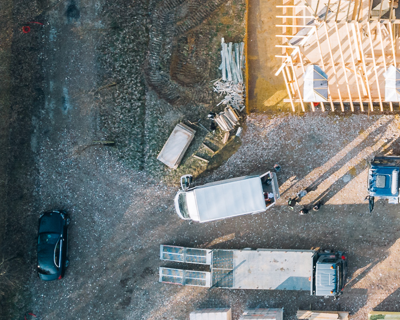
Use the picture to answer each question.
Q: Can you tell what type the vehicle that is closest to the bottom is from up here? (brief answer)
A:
truck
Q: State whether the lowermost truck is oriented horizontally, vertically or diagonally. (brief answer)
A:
horizontally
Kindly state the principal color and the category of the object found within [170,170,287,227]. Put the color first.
white van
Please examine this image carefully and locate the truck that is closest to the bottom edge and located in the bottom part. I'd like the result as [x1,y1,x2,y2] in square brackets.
[161,247,348,297]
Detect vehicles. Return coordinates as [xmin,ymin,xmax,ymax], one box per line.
[161,247,348,297]
[366,156,400,214]
[33,208,74,280]
[170,170,287,227]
